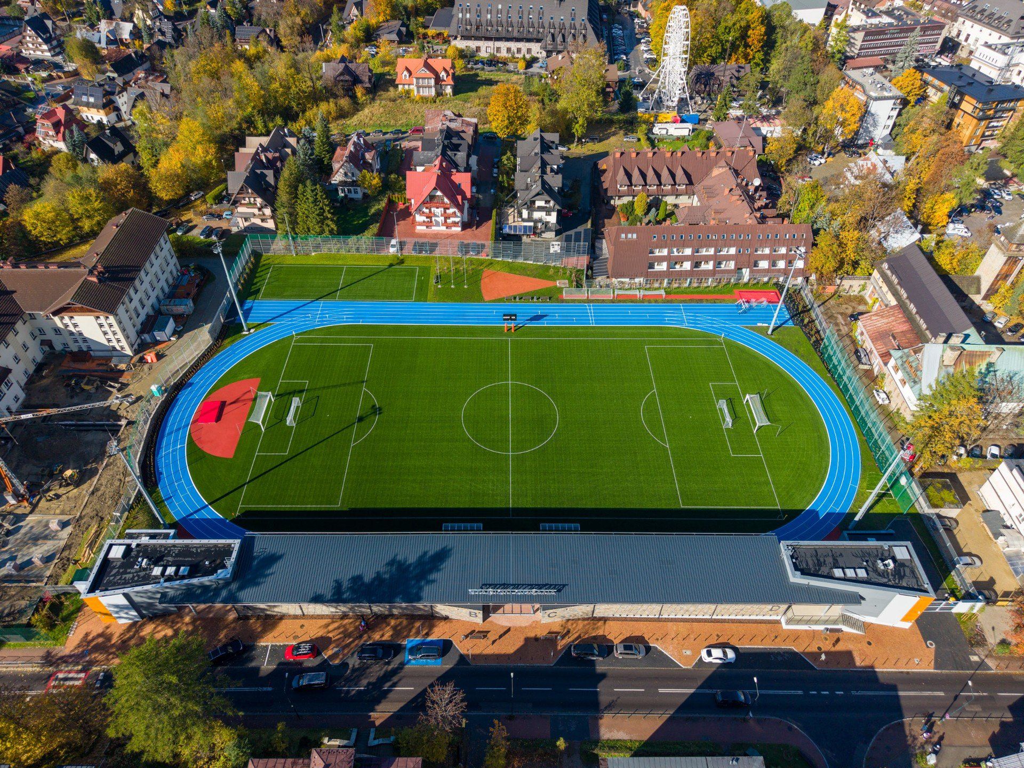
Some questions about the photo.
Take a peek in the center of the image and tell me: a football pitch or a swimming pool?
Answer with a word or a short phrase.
football pitch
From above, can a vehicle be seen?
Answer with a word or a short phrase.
Yes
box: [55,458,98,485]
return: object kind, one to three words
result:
work vehicle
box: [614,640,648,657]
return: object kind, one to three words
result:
car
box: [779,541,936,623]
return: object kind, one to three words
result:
building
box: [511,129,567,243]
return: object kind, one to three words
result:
house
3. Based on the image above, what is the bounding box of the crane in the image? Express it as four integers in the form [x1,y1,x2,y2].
[0,394,132,510]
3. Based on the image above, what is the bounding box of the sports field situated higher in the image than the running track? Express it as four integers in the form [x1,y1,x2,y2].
[248,265,431,302]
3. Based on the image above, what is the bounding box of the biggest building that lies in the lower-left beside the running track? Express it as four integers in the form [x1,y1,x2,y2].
[81,539,245,622]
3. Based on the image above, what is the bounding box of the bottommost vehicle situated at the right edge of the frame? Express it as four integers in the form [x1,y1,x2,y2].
[967,586,1003,602]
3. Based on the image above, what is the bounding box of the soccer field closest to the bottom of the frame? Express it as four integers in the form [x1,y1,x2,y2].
[187,324,829,534]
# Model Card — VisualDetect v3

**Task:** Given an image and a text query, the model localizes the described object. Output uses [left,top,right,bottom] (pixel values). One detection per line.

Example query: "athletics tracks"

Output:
[157,301,859,547]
